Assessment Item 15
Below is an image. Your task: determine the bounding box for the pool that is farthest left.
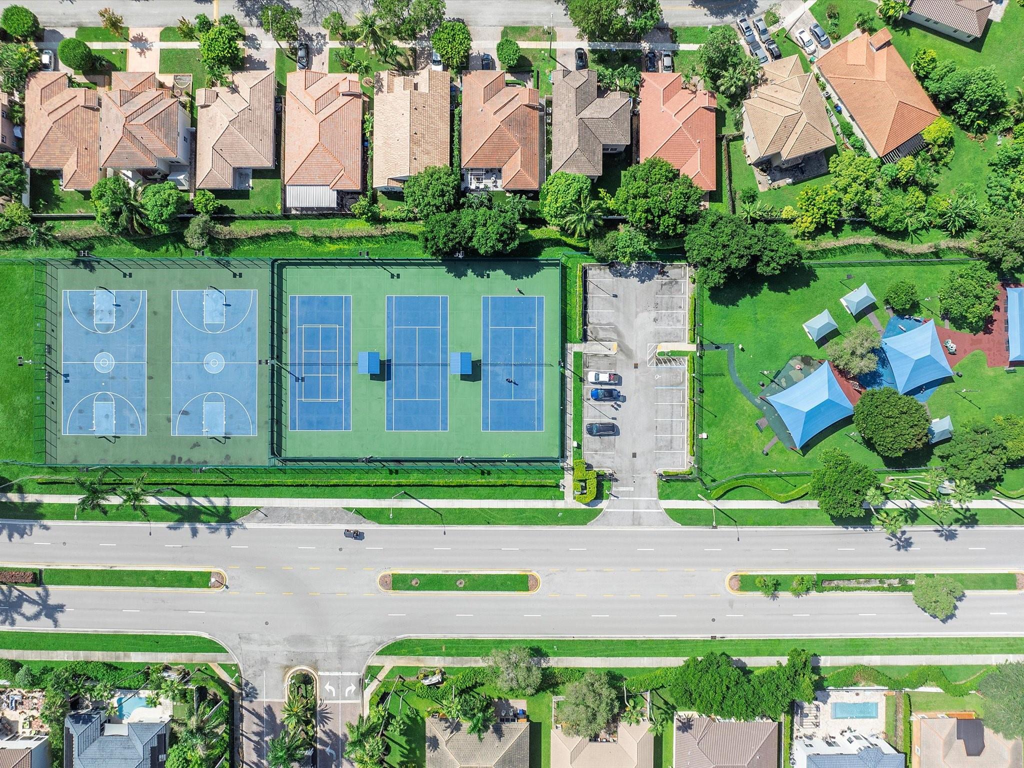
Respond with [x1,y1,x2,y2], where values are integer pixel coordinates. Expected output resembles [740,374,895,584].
[116,696,157,721]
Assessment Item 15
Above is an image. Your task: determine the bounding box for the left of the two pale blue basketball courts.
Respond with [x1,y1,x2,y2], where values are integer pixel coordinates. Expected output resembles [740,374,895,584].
[62,290,147,435]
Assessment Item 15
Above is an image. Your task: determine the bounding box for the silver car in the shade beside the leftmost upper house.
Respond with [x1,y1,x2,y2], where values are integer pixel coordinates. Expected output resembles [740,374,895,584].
[40,47,56,72]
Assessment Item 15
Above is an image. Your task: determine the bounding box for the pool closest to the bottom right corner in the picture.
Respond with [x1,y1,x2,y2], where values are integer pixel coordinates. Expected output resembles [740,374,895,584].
[830,701,879,720]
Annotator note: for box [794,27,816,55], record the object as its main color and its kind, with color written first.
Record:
white car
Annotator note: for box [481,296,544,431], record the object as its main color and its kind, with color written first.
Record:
blue tennis court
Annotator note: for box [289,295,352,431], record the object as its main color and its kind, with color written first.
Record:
blue tennis court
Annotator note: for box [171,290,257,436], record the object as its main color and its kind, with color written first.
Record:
blue basketball court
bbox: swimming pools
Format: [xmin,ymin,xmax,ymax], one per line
[116,696,157,721]
[830,701,879,720]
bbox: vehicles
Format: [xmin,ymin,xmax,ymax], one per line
[587,371,620,385]
[645,48,658,73]
[431,45,444,68]
[747,36,770,66]
[40,47,56,72]
[808,23,830,50]
[592,389,623,401]
[661,48,674,73]
[752,15,771,43]
[574,46,587,70]
[587,423,615,436]
[794,27,816,55]
[481,52,492,70]
[297,42,310,68]
[763,37,784,62]
[343,529,362,540]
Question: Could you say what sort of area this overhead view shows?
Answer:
residential area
